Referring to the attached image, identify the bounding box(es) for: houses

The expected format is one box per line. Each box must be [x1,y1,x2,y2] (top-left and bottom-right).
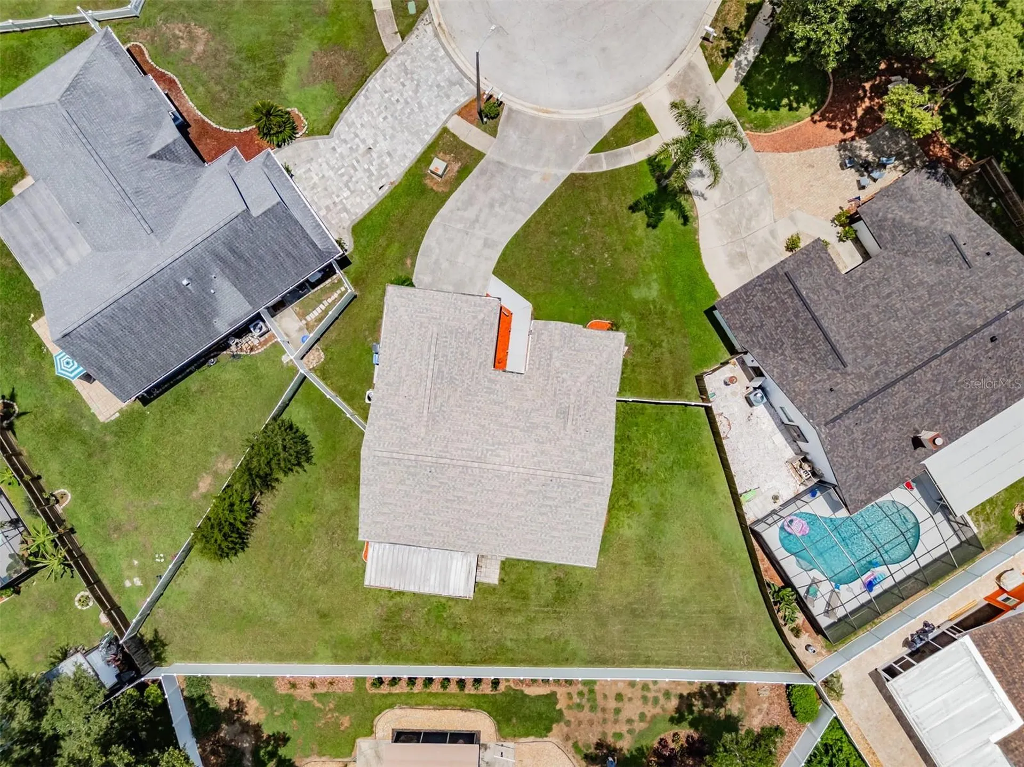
[865,584,1024,767]
[0,26,343,403]
[380,729,481,767]
[358,285,629,599]
[710,159,1024,516]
